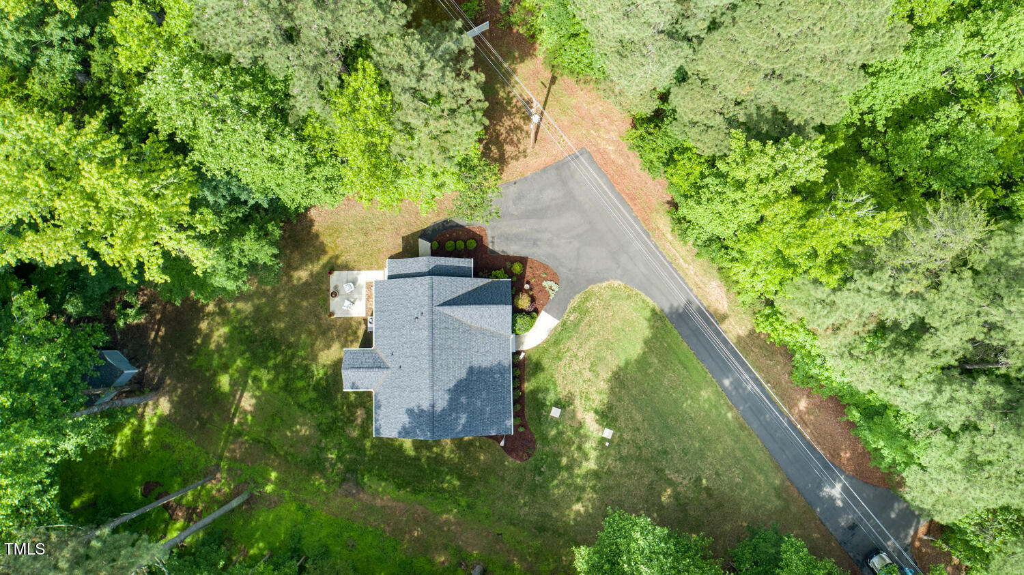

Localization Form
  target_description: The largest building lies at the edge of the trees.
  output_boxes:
[340,256,517,439]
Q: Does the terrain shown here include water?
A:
No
